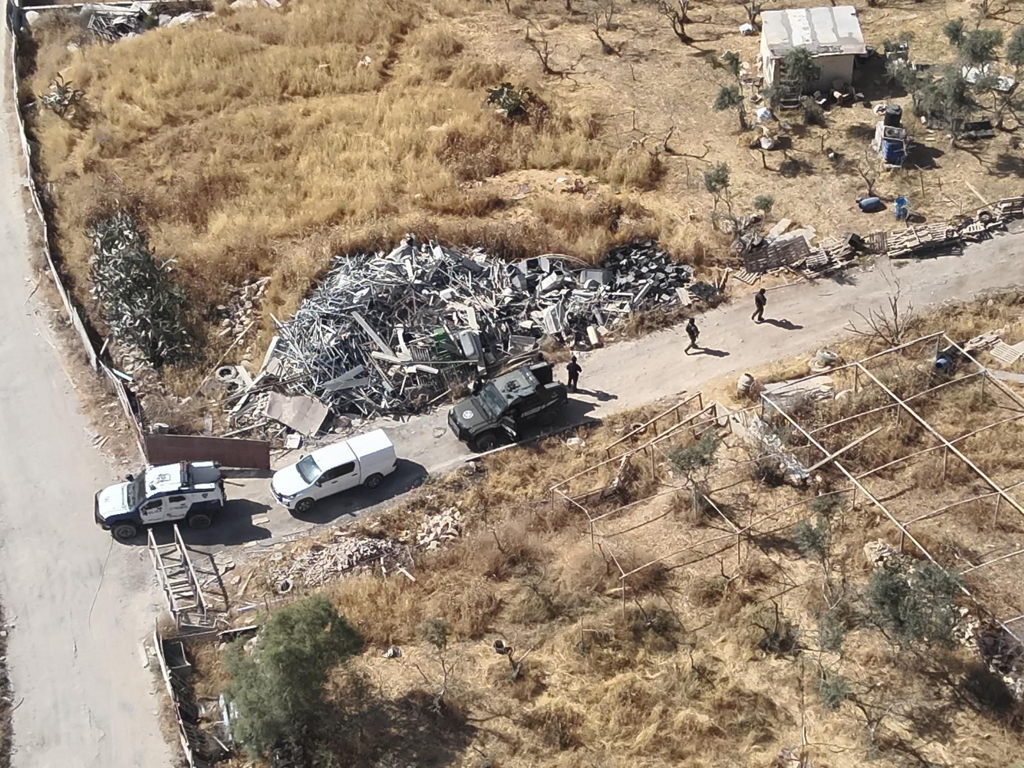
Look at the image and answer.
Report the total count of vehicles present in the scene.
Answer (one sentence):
The picture shows 3 vehicles.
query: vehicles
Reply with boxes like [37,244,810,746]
[89,456,226,542]
[262,421,401,515]
[442,357,566,449]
